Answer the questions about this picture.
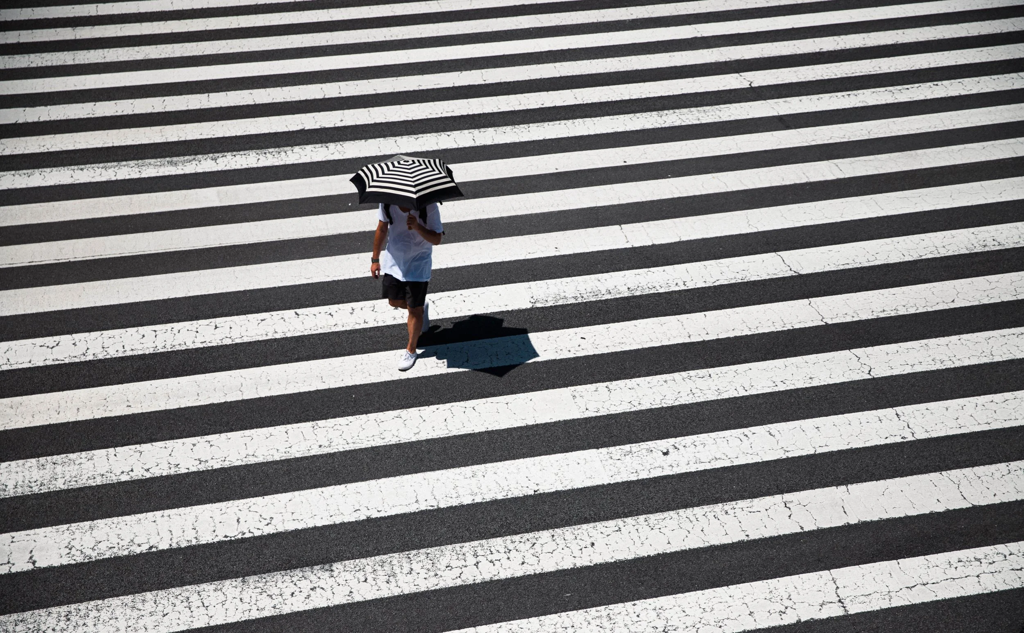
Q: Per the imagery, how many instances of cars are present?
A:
0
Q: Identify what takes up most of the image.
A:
paved ground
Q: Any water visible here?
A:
No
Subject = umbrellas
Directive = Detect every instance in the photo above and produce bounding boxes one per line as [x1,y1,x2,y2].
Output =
[349,157,465,229]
